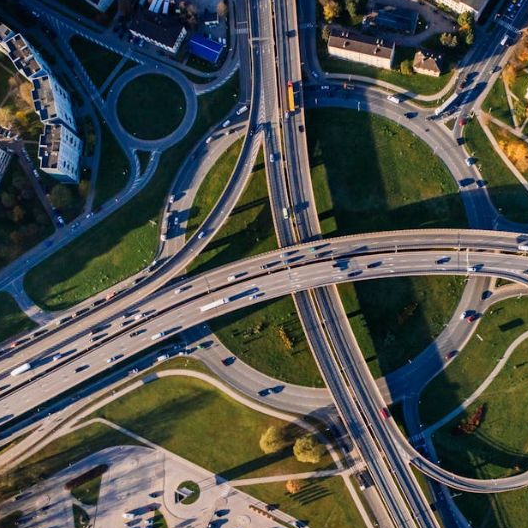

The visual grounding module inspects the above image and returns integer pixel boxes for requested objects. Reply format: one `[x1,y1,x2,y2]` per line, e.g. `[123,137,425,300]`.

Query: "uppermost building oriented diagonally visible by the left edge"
[5,33,63,84]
